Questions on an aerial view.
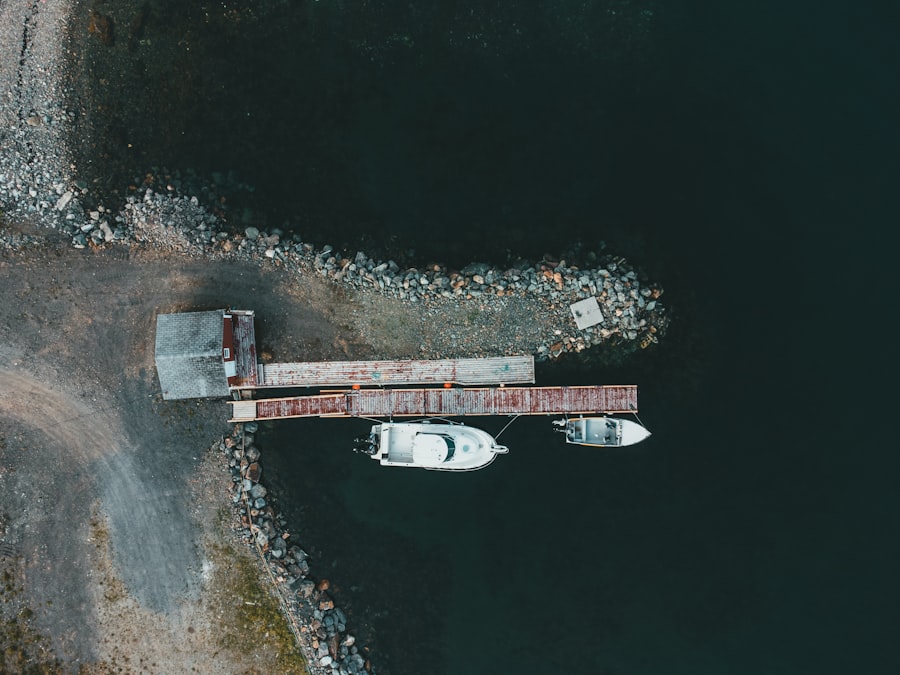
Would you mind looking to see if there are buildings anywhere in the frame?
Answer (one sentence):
Yes, this view includes a building.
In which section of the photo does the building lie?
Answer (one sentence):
You can find the building in the left area of the picture.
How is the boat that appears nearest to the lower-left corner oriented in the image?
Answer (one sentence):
From this overhead view, the boat that appears nearest to the lower-left corner appears to run from side to side.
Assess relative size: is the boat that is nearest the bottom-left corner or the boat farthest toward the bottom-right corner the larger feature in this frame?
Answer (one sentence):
The boat farthest toward the bottom-right corner is smaller than the boat that is nearest the bottom-left corner.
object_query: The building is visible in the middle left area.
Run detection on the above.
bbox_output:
[154,309,242,400]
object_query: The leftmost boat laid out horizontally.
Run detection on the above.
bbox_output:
[357,423,510,473]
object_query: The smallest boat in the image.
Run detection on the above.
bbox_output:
[548,417,652,446]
